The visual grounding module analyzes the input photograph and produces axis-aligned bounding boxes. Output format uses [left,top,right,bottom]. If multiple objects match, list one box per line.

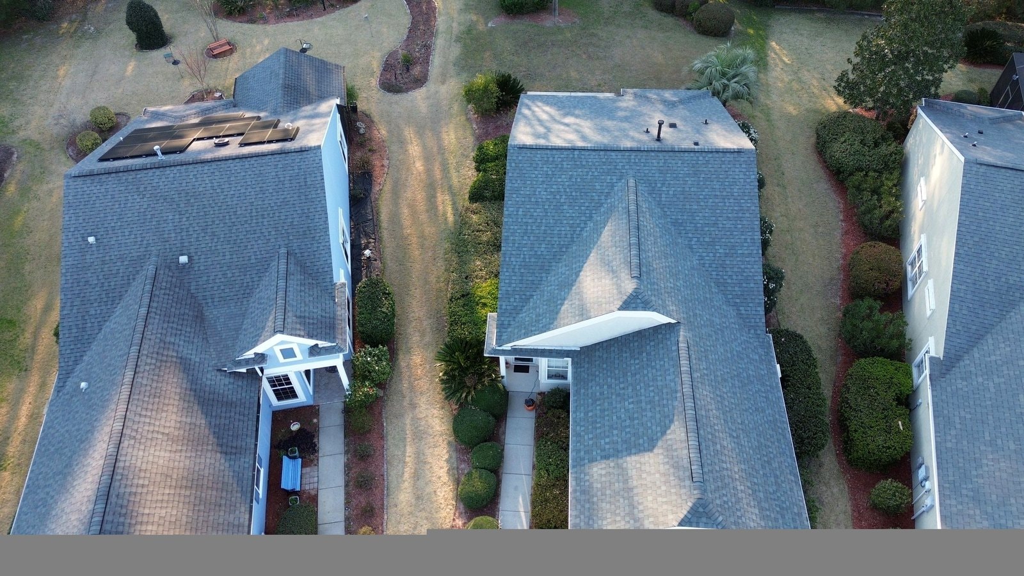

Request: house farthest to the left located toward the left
[0,48,355,576]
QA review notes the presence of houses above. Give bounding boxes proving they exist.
[900,98,1024,576]
[484,87,820,573]
[0,48,355,576]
